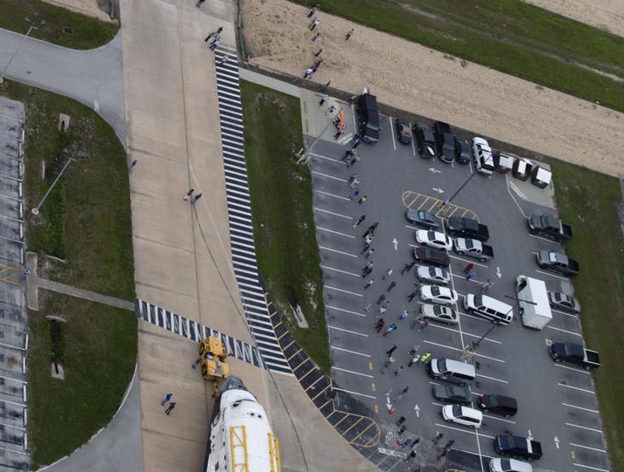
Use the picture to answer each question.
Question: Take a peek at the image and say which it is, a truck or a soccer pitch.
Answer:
truck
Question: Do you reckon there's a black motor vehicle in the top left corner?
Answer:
No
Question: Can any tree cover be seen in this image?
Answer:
No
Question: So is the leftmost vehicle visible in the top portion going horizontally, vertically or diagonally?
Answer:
vertically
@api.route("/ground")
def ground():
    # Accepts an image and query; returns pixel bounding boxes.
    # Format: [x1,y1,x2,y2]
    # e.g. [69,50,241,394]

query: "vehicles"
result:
[432,122,455,164]
[412,122,433,160]
[418,283,457,307]
[430,356,473,383]
[411,244,452,269]
[419,303,458,327]
[197,329,229,388]
[527,216,571,241]
[453,133,473,168]
[488,456,531,472]
[451,238,495,264]
[469,140,493,174]
[493,434,541,461]
[392,114,412,149]
[440,403,484,429]
[444,217,489,243]
[514,282,555,343]
[463,296,514,323]
[535,252,578,277]
[403,207,441,230]
[355,96,379,143]
[551,342,597,370]
[413,229,452,251]
[431,383,472,406]
[476,394,517,419]
[413,264,451,287]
